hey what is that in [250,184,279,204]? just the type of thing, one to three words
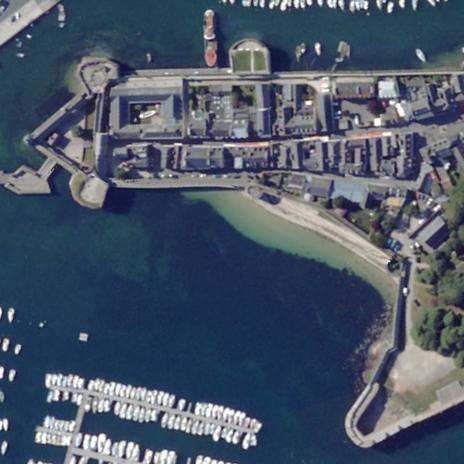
house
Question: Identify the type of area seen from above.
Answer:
residential area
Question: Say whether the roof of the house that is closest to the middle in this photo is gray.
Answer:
Yes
